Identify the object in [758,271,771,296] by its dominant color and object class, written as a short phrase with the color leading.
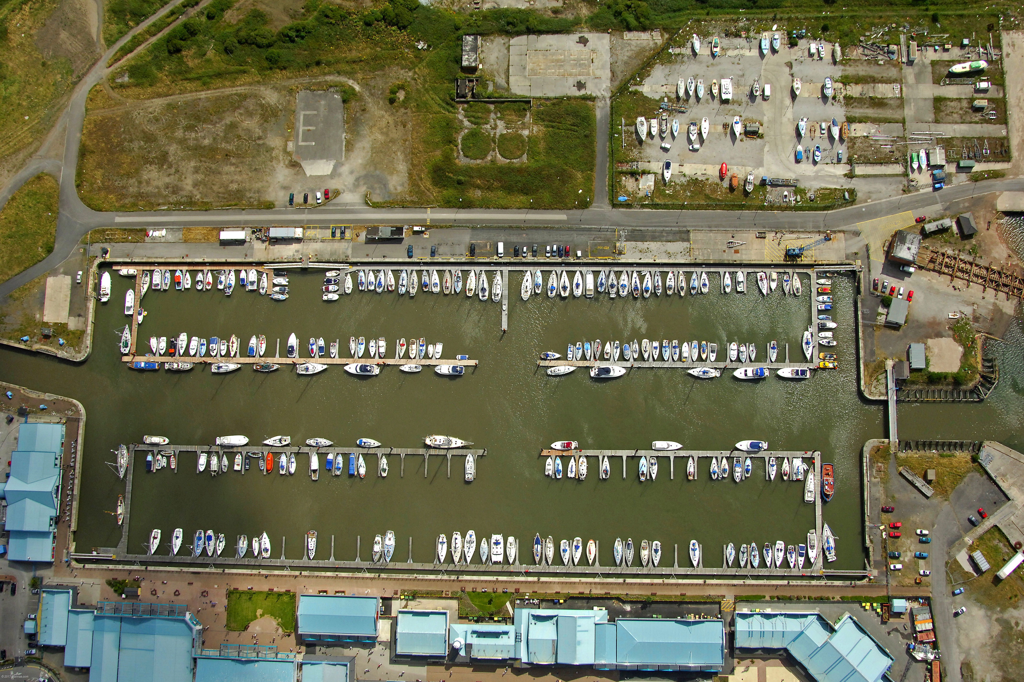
white boat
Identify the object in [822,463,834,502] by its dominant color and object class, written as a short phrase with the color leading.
red boat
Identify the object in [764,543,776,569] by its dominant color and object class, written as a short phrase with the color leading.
white boat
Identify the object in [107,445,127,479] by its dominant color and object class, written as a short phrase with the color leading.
gray boat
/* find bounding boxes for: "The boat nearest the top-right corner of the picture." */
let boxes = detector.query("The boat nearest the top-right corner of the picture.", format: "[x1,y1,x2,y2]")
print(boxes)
[950,61,988,73]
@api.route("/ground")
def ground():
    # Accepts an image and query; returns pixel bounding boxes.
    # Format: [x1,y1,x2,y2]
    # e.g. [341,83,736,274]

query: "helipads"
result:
[293,89,345,160]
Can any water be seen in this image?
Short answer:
Yes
